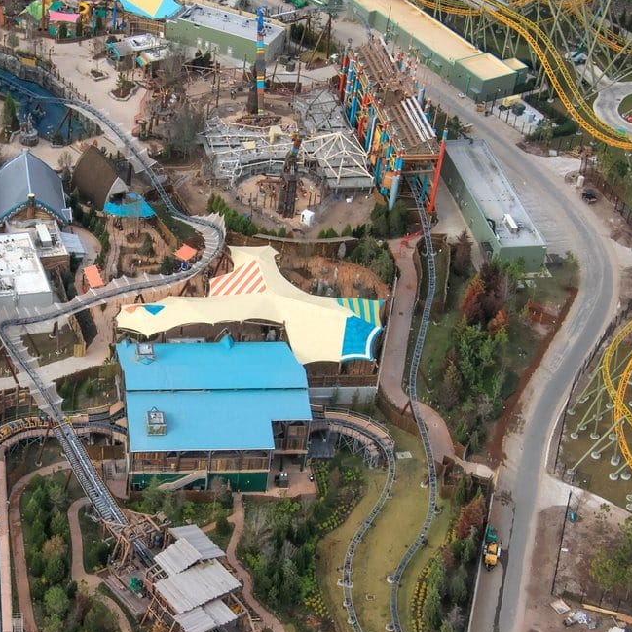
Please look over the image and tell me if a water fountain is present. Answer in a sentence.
Yes, there's a water fountain down there.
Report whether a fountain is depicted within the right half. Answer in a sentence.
No, there's no fountain to be seen within the right half.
